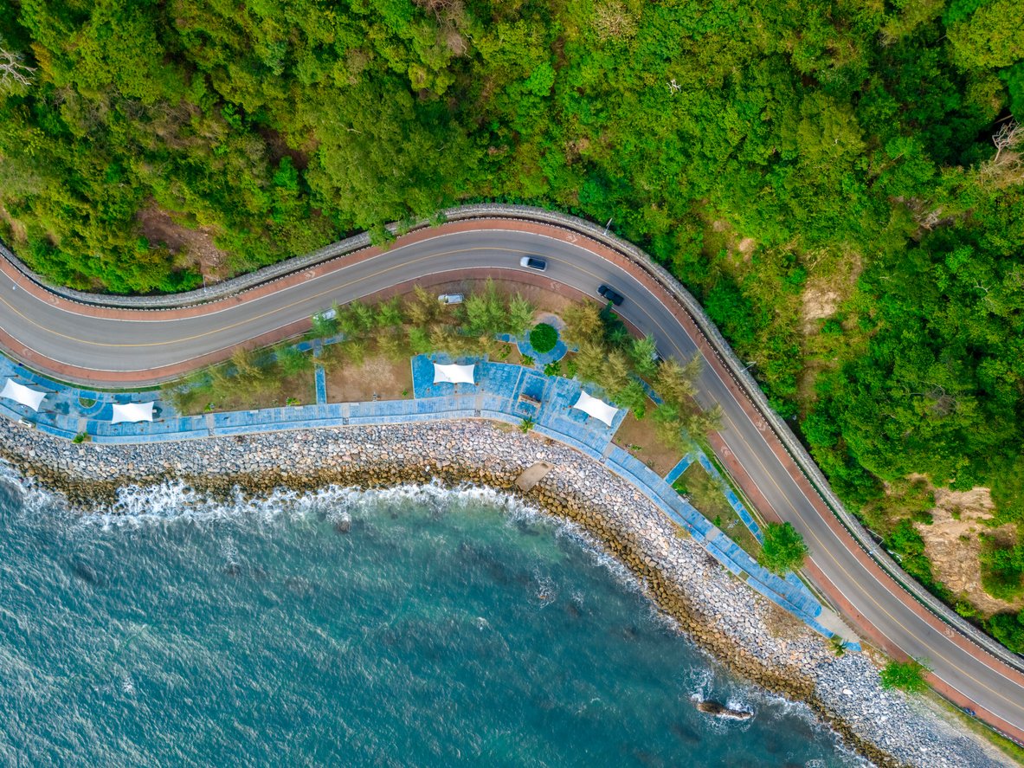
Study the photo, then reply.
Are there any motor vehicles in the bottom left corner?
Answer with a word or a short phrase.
No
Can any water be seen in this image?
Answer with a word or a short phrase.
Yes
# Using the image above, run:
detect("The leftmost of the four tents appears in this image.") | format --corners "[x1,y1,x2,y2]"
[0,373,62,416]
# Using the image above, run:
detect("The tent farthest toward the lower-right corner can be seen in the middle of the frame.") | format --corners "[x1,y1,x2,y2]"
[567,385,623,431]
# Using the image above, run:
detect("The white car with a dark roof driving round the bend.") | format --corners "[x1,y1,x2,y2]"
[520,255,548,271]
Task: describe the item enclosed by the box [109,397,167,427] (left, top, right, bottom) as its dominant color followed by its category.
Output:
white tent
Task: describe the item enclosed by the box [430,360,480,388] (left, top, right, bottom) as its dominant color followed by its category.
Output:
white tent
